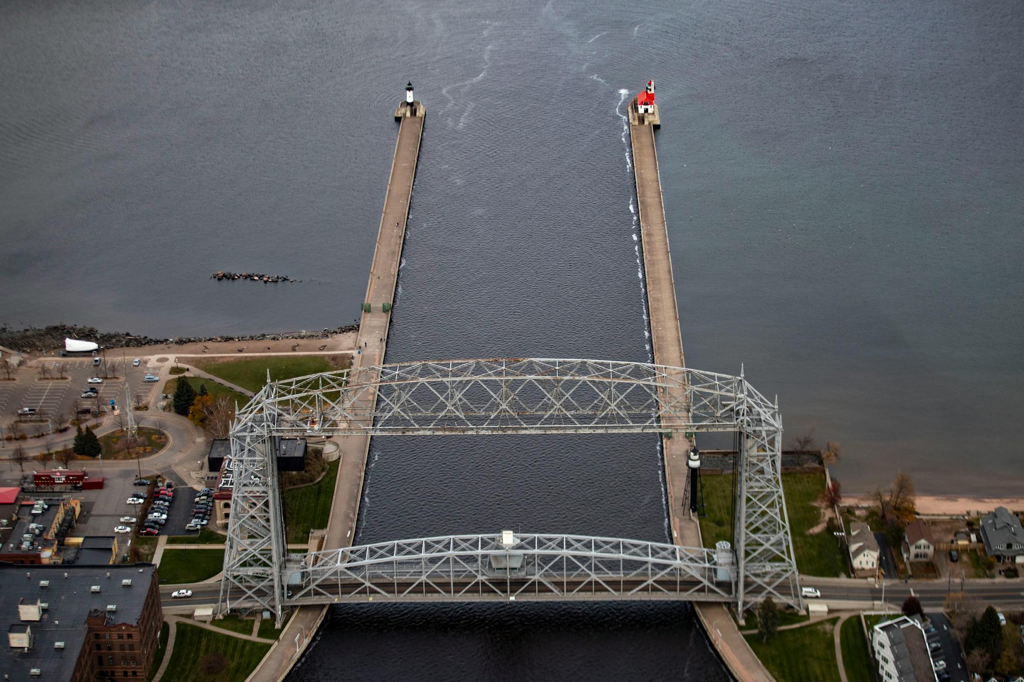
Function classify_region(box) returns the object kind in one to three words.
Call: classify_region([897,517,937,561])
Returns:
house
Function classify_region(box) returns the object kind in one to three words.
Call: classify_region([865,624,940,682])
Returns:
building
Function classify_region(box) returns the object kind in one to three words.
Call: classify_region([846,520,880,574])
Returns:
house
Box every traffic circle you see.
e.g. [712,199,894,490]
[82,418,192,469]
